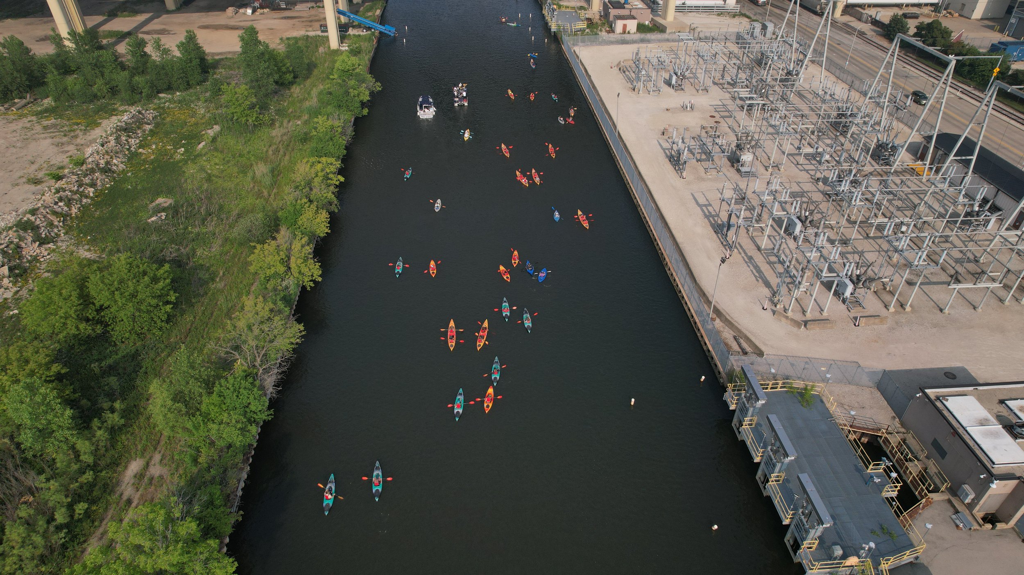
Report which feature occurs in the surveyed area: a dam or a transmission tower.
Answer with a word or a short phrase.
transmission tower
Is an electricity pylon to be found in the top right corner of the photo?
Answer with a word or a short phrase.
Yes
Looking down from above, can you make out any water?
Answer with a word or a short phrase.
Yes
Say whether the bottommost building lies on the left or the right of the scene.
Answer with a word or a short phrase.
right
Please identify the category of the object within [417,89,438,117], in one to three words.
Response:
boat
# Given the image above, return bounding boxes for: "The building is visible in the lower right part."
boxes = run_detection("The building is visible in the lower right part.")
[901,381,1024,540]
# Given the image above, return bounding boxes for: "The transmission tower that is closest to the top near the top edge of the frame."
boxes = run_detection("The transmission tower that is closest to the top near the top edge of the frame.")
[762,0,835,97]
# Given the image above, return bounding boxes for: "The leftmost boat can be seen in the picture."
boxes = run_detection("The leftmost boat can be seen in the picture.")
[324,474,336,516]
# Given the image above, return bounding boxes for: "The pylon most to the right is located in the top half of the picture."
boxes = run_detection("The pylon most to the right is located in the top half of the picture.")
[917,82,1024,266]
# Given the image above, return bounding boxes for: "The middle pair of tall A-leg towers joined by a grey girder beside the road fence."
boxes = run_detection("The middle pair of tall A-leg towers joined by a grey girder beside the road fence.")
[842,28,959,182]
